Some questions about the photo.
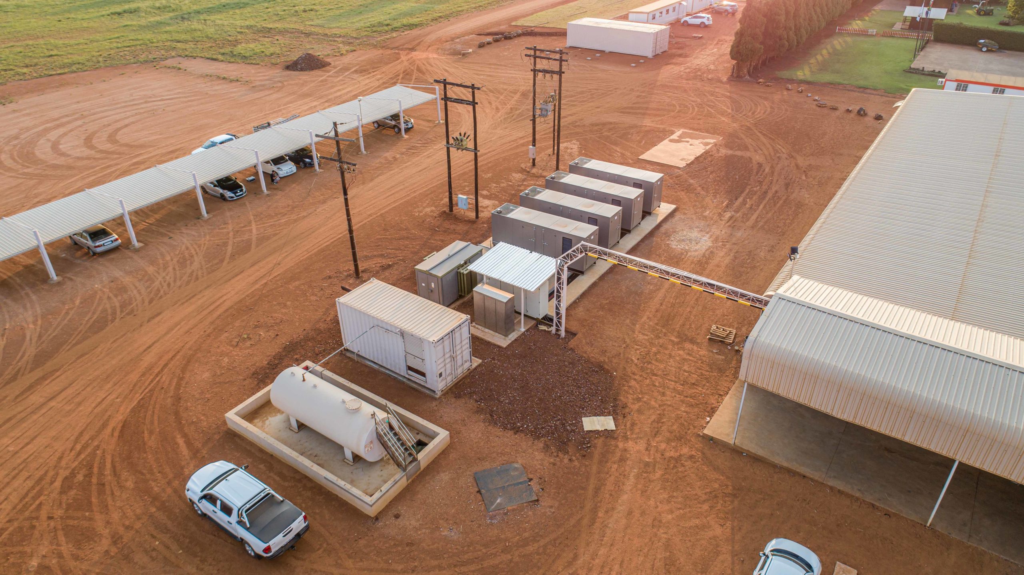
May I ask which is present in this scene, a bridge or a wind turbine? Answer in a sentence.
It is a bridge that can be seen here.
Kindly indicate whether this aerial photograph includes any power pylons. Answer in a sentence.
Yes, the photo shows a power pylon.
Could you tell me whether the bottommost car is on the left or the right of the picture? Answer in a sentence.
It is on the right.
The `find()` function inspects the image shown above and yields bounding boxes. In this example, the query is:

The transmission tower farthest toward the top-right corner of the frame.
[519,46,569,170]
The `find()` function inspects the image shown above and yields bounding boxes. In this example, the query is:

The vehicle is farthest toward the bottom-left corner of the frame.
[184,464,315,566]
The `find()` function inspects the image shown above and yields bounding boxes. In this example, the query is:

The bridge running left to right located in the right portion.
[552,239,767,337]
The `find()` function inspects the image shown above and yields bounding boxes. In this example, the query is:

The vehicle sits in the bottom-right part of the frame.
[751,538,822,575]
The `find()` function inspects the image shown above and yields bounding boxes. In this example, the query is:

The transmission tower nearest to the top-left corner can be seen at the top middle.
[424,77,489,219]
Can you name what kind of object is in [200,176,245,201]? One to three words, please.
car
